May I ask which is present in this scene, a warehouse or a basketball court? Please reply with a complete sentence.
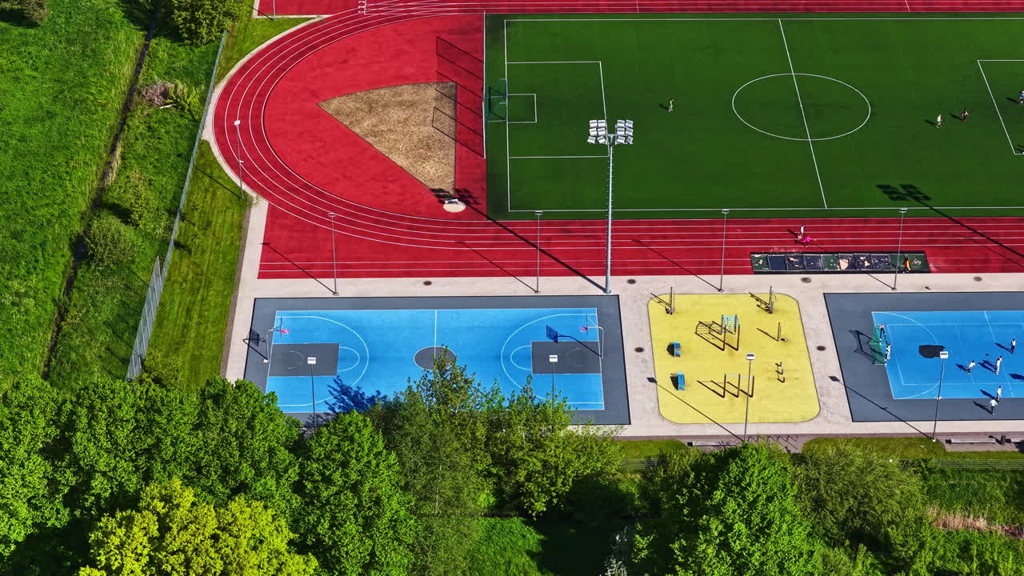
This aerial view contains a basketball court.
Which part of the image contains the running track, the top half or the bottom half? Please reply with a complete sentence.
You can find the running track in the top half.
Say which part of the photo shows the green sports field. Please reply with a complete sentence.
The green sports field sits in the top right section of the image.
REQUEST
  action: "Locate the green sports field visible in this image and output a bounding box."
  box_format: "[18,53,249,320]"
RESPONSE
[485,11,1024,220]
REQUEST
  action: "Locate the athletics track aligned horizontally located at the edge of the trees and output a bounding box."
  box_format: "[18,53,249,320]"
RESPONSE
[212,0,1024,278]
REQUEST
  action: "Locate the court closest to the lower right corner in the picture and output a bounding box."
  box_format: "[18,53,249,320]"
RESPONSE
[822,291,1024,423]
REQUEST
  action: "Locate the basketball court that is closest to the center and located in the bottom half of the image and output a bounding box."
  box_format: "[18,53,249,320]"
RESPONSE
[242,294,633,427]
